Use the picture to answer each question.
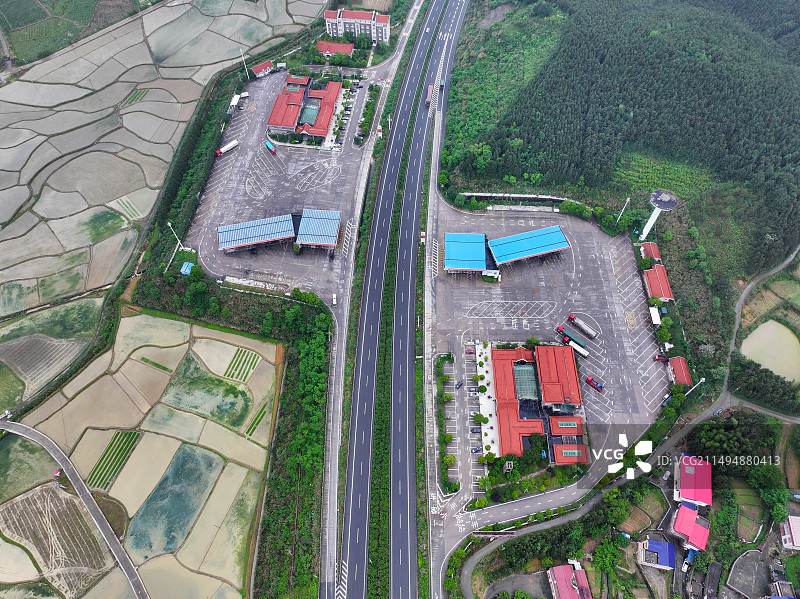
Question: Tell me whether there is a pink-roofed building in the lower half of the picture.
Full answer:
Yes, the scene does show a pink-roofed building in the lower half of the picture.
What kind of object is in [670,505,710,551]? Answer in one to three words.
house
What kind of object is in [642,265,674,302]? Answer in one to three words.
house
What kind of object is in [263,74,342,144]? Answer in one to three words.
building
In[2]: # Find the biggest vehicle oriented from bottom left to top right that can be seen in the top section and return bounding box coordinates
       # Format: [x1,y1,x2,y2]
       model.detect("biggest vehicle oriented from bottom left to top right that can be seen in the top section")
[216,139,238,156]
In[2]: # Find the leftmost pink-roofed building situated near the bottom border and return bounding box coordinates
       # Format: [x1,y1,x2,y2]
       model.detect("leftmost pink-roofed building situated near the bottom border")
[543,565,592,599]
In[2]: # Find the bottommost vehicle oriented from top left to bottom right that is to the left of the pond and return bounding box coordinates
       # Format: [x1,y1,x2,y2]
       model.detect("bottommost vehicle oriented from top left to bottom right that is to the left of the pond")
[584,373,607,394]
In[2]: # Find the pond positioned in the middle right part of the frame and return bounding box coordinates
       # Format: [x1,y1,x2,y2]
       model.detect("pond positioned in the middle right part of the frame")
[741,321,800,383]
